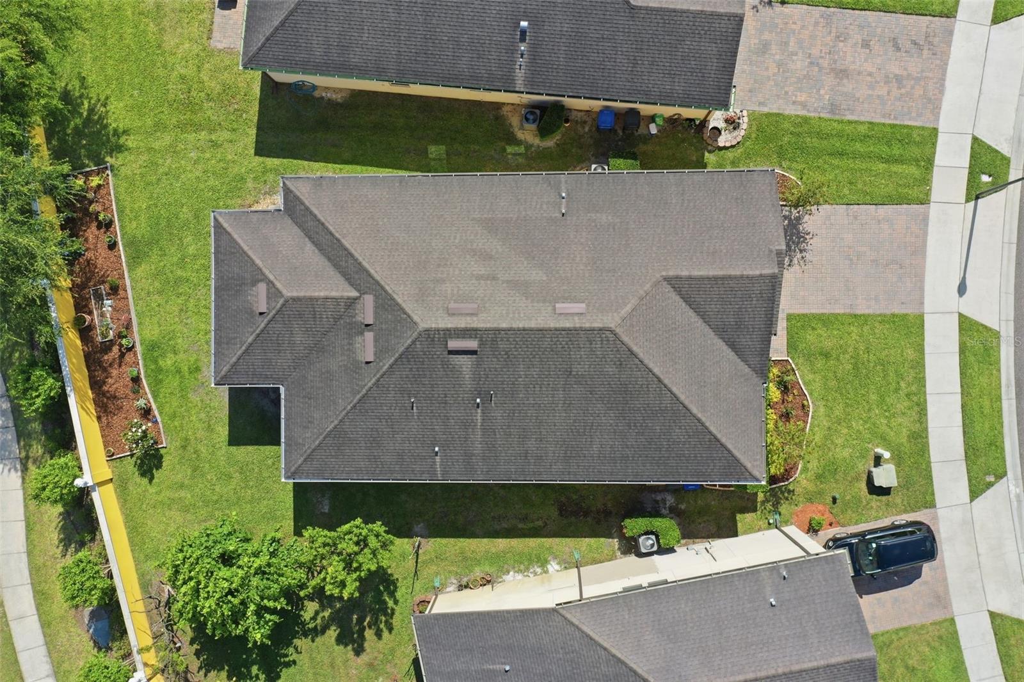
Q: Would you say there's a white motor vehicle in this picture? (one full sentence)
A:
No, no white motor vehicle can be seen from above.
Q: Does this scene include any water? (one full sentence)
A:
No, water can't be seen anywhere here.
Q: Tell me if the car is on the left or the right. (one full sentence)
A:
The car appears in the right half of the scene.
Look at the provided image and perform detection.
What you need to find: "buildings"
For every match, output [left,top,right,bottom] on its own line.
[239,0,750,118]
[409,526,883,682]
[209,169,788,484]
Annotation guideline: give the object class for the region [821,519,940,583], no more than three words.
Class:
car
